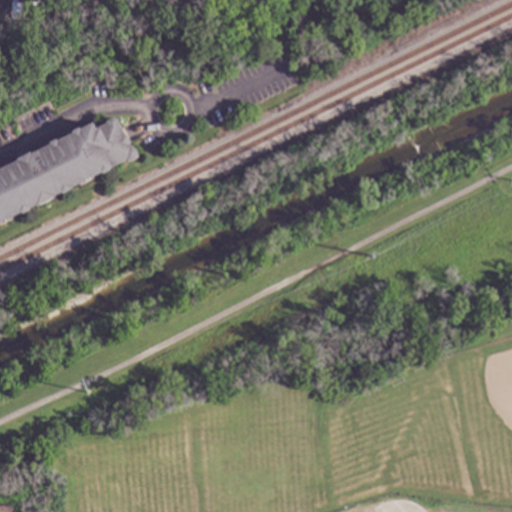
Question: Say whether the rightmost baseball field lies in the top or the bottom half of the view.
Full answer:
You can find the rightmost baseball field in the bottom half.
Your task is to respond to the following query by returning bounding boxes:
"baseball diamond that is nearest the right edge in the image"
[485,350,512,430]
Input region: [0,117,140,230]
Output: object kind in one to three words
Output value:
building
